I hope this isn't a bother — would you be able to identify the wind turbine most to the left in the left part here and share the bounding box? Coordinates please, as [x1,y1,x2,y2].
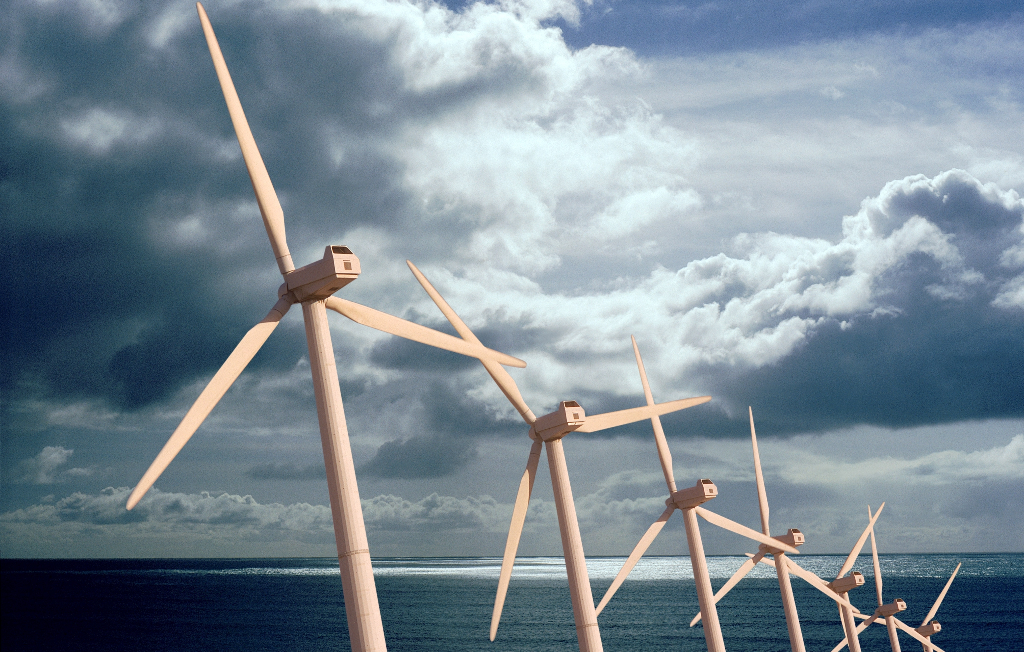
[129,1,525,652]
